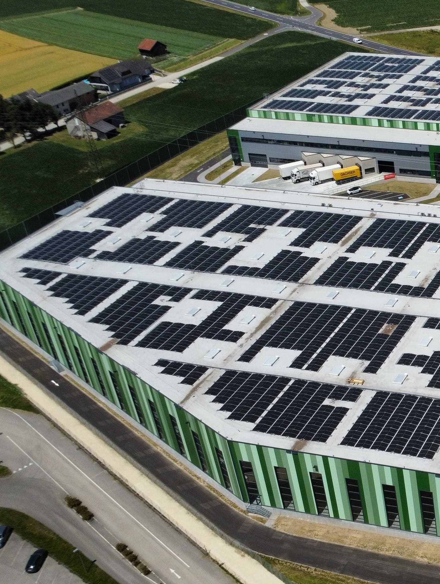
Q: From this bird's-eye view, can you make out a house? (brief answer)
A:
Yes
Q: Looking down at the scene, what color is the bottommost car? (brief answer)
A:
black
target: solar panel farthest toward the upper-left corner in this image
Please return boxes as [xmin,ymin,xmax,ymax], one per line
[103,64,130,80]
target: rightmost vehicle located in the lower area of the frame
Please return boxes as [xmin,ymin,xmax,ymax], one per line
[23,545,45,572]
